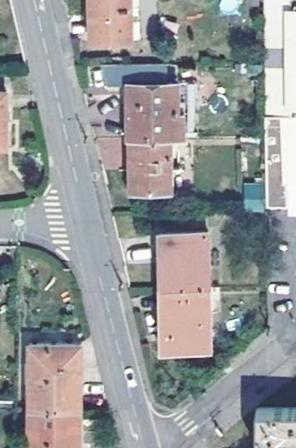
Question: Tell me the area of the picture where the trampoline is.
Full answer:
Look in the top right portion of the view to spot the trampoline.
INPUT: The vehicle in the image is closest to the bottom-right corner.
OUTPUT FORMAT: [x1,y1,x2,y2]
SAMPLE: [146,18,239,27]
[274,299,295,311]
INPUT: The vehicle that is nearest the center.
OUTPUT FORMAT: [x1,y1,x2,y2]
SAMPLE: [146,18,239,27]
[129,248,152,260]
